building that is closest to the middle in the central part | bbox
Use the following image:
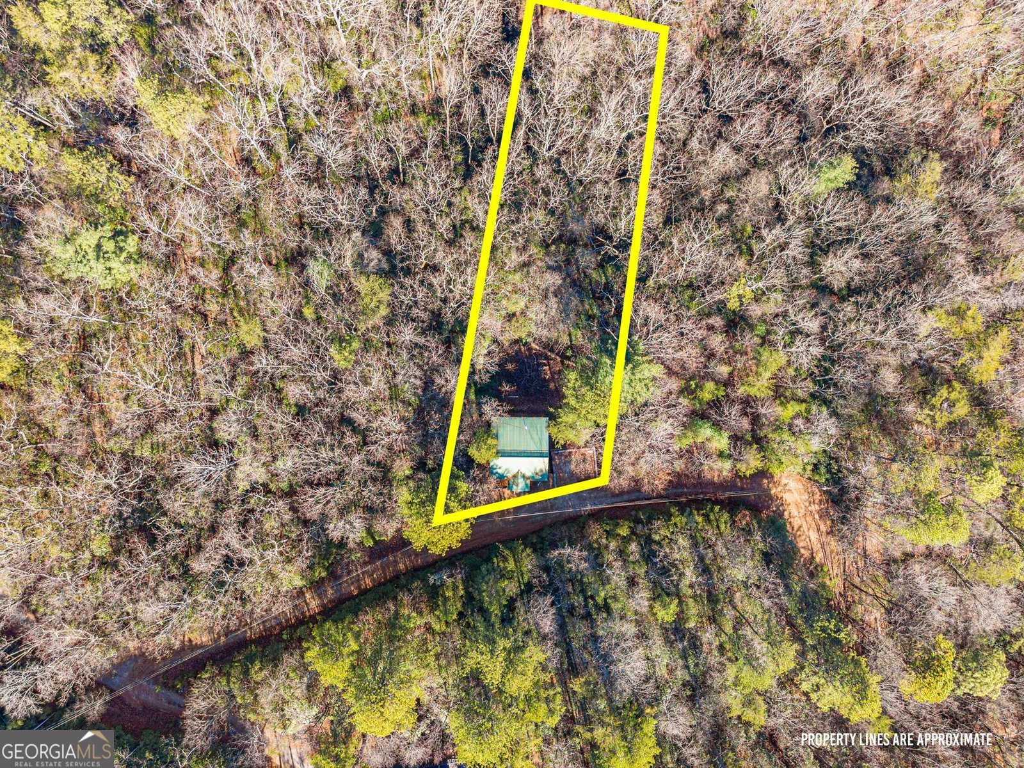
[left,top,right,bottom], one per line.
[490,417,550,498]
